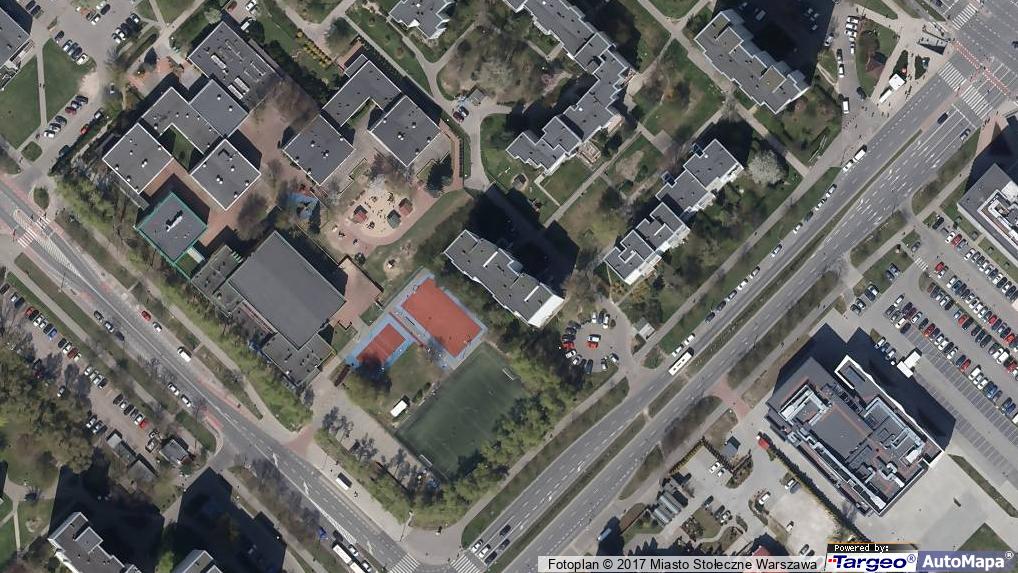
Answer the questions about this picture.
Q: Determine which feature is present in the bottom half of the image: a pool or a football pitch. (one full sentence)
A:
Looking in the bottom half of the image, you will find a football pitch.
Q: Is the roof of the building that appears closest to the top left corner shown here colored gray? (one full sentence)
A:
Yes, the roof of the building that appears closest to the top left corner is indeed gray.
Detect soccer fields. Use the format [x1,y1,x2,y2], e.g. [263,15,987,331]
[396,342,534,482]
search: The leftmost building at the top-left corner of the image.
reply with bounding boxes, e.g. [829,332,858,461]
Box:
[0,5,35,90]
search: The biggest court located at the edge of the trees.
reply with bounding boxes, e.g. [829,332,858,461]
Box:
[391,267,488,368]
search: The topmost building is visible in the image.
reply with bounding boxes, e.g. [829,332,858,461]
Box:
[390,0,451,44]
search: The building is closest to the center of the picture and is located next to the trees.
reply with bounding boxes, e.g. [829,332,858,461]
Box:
[444,230,560,327]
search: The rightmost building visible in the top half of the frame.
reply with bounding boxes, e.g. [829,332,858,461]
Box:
[954,164,1018,268]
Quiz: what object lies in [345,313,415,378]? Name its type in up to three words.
sports court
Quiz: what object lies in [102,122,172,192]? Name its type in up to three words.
building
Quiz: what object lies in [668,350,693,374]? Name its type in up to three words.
bus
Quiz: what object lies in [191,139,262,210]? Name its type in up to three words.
building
